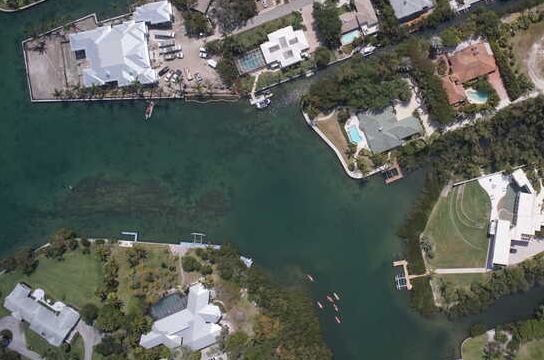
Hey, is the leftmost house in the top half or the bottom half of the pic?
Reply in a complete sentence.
The leftmost house sits in the bottom half of the picture.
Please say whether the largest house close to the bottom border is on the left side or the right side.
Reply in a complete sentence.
It is on the left.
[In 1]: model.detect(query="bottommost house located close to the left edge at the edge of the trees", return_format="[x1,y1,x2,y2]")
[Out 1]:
[4,283,81,347]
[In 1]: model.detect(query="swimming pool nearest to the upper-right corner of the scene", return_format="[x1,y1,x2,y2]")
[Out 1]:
[467,91,489,104]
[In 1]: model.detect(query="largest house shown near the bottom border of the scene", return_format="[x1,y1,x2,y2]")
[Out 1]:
[137,281,226,353]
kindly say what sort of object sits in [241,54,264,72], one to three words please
swimming pool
